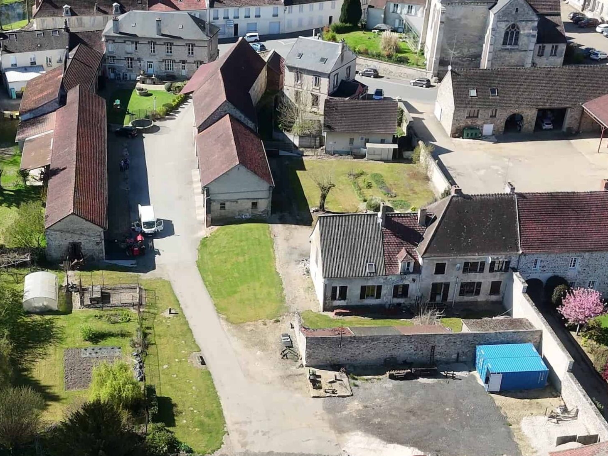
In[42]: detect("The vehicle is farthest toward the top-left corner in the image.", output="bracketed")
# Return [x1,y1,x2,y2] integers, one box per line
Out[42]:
[110,126,141,140]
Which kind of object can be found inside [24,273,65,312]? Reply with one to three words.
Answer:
greenhouse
